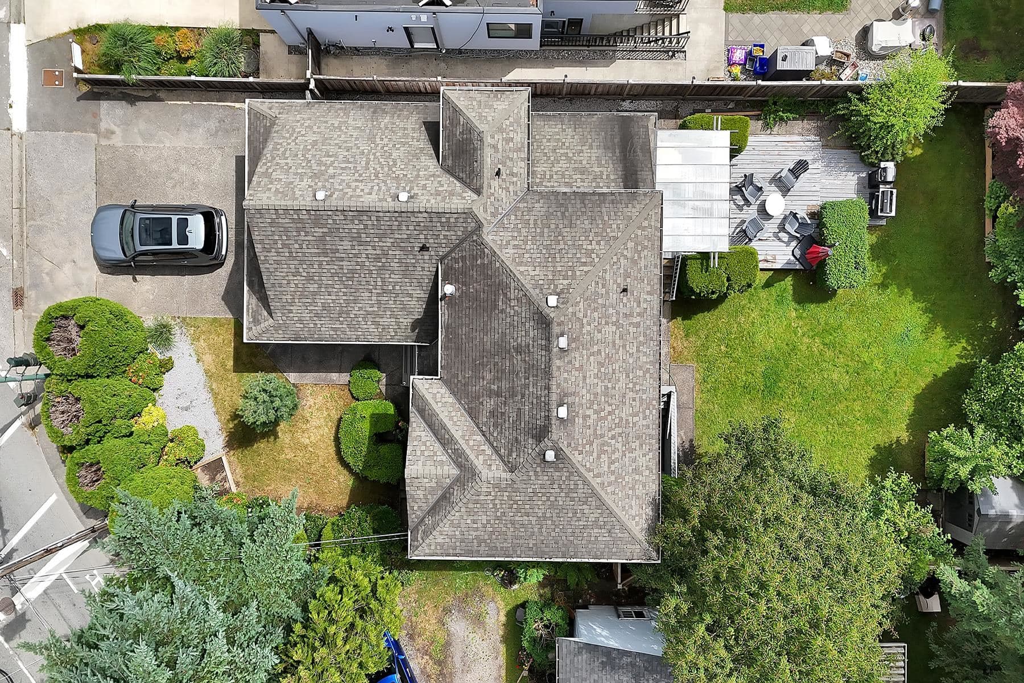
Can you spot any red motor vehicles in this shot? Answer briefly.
No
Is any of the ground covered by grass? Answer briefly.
Yes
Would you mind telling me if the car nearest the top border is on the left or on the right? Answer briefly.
left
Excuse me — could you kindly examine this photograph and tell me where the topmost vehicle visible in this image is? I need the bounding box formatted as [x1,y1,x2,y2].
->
[90,199,233,269]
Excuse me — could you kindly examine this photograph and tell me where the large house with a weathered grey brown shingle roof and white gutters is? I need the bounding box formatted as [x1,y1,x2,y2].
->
[241,83,667,565]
